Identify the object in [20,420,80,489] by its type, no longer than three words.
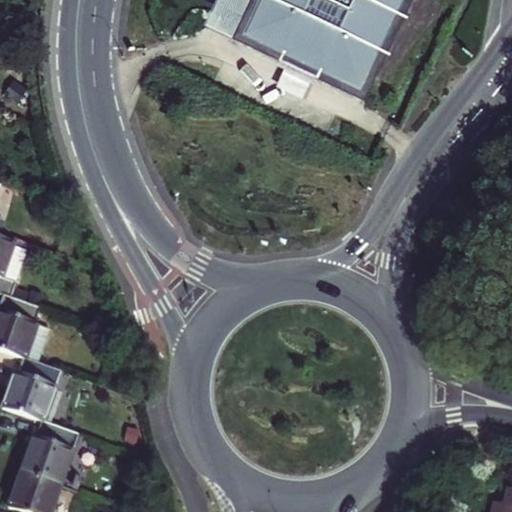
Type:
house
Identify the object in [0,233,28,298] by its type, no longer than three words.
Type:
house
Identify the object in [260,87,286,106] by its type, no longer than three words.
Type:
vehicle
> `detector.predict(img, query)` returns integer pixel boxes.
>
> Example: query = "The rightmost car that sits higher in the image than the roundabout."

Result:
[346,236,362,256]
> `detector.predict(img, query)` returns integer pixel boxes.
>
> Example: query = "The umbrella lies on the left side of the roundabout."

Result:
[81,452,95,466]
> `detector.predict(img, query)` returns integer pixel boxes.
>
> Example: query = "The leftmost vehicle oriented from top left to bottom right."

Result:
[240,63,268,92]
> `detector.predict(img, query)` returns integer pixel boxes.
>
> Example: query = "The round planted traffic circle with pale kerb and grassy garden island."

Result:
[152,261,428,512]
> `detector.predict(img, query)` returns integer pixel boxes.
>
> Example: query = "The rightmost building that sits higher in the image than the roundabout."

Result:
[236,0,410,98]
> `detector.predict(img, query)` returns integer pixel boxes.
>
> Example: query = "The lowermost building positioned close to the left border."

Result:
[6,471,63,512]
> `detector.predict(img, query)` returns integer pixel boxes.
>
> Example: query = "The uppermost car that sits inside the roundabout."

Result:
[317,280,340,296]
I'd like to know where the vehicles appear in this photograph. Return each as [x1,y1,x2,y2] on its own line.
[346,236,362,256]
[317,280,340,296]
[240,63,268,92]
[260,87,286,106]
[342,493,356,512]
